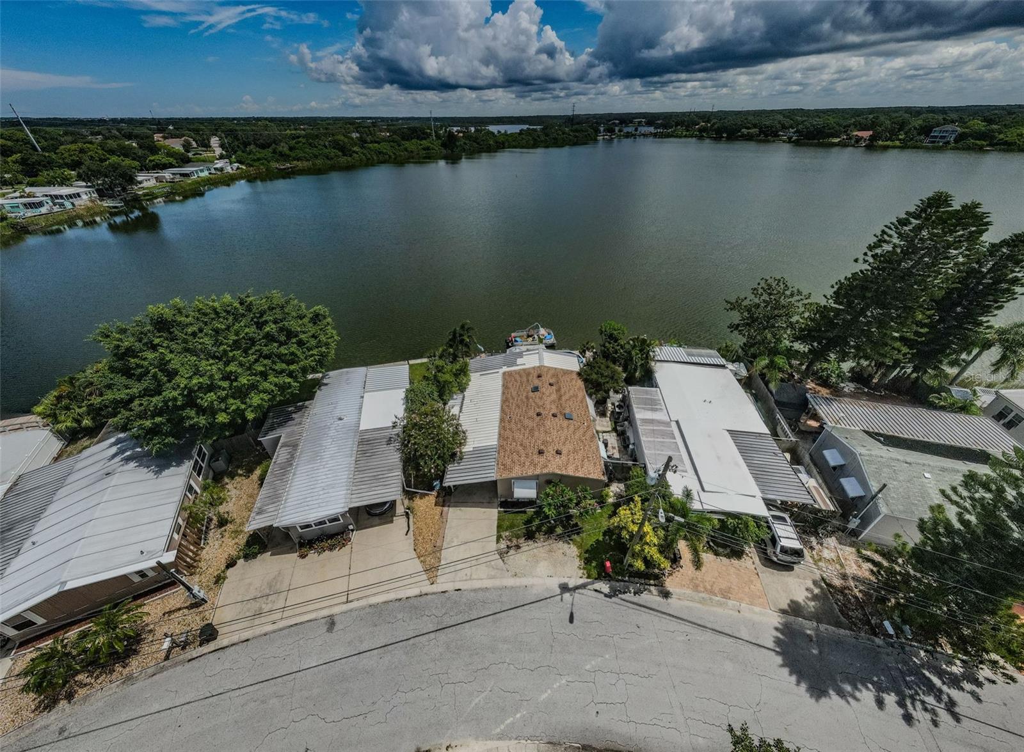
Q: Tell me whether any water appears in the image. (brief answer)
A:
Yes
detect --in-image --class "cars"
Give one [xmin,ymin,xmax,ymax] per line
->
[762,507,813,577]
[372,502,402,521]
